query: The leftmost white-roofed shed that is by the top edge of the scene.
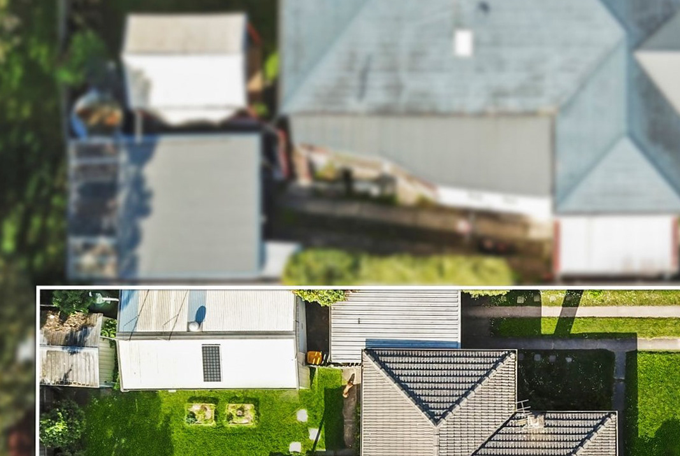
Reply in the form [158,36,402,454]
[121,14,256,127]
